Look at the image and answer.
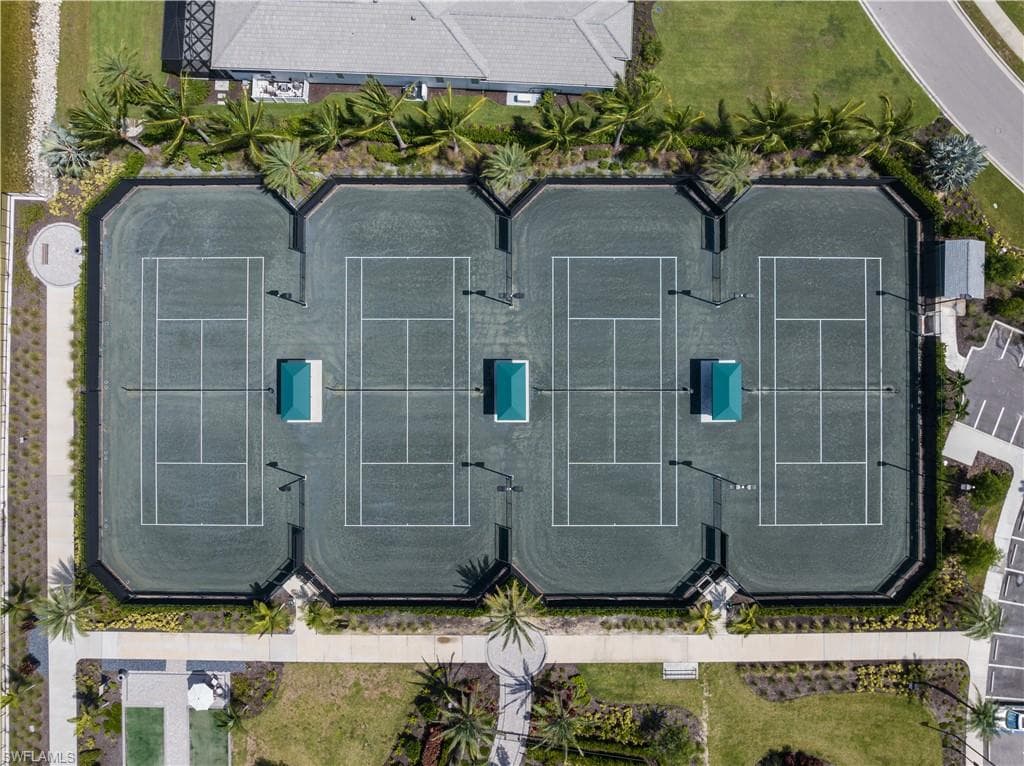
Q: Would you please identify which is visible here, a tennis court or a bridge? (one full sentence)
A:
There is a tennis court in the scene.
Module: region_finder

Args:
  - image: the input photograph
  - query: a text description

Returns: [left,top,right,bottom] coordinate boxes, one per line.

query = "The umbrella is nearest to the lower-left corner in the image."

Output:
[189,682,214,707]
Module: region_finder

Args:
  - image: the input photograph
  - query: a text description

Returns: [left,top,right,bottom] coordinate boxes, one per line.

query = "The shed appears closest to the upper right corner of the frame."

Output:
[935,239,986,297]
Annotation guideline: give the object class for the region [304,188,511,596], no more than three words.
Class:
tennis court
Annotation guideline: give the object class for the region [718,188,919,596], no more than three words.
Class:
tennis court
